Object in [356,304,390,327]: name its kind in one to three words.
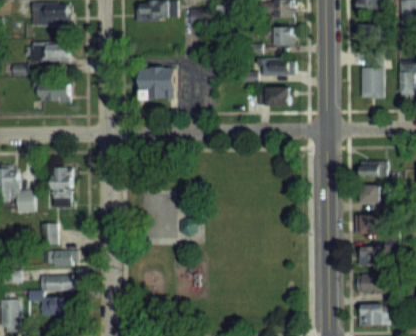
house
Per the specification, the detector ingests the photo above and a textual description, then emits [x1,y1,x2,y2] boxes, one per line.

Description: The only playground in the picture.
[175,259,207,300]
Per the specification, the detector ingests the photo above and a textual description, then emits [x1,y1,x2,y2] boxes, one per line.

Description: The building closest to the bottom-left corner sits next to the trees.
[0,299,22,333]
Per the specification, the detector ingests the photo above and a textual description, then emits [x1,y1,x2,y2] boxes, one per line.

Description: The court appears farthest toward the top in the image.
[144,190,204,244]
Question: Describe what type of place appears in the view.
residential area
